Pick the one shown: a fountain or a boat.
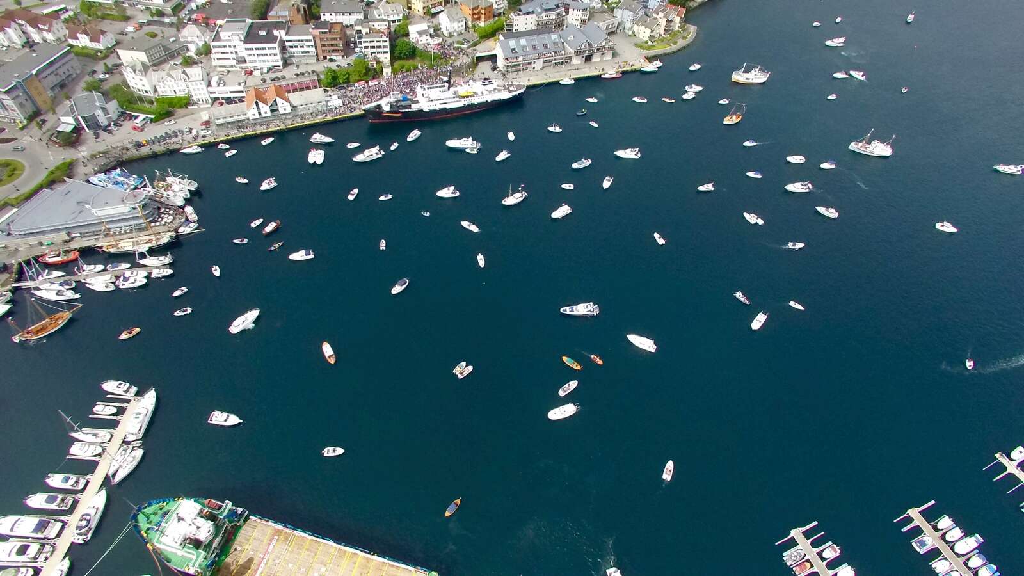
boat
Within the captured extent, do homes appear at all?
Yes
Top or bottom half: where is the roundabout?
top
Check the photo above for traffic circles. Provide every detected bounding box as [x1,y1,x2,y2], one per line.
[0,147,52,195]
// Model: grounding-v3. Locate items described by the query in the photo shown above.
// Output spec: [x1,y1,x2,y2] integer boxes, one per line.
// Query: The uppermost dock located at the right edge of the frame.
[982,452,1024,494]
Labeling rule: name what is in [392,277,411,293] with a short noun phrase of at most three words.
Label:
boat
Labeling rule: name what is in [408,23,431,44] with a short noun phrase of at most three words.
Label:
house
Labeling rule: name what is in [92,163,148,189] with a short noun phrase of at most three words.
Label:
vessel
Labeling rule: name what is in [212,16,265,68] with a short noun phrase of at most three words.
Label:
building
